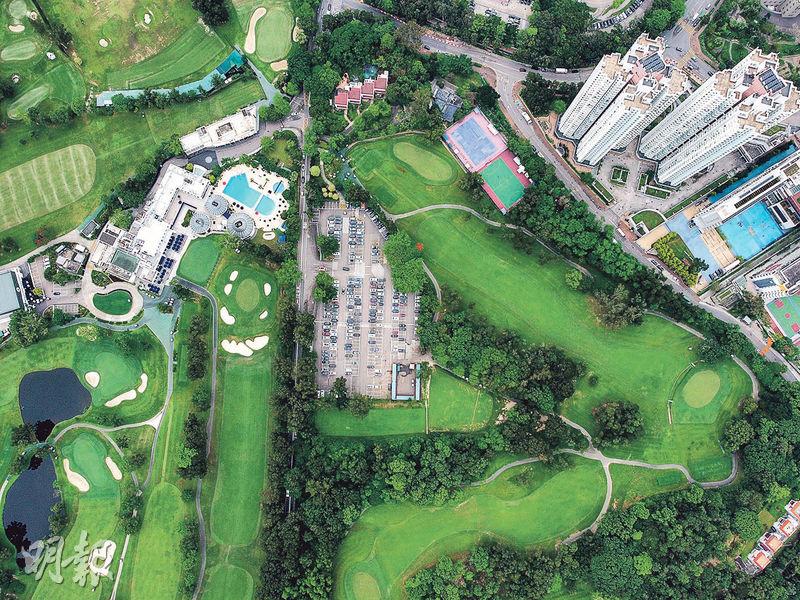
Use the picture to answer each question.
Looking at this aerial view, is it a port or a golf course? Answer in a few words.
golf course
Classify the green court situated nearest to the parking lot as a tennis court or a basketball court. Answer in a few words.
tennis court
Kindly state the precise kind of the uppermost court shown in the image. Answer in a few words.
tennis court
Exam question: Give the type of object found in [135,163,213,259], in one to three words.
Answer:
building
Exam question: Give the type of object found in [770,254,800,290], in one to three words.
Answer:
building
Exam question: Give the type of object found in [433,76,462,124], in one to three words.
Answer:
house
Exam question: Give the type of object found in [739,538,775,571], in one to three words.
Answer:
house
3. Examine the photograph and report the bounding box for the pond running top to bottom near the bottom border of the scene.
[3,445,57,570]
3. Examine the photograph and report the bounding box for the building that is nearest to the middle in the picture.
[391,363,420,400]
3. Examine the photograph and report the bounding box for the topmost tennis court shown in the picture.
[443,106,509,173]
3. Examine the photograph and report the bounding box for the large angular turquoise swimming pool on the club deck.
[222,172,262,209]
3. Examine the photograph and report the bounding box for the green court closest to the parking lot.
[473,148,534,216]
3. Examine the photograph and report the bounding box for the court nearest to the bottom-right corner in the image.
[768,289,800,339]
